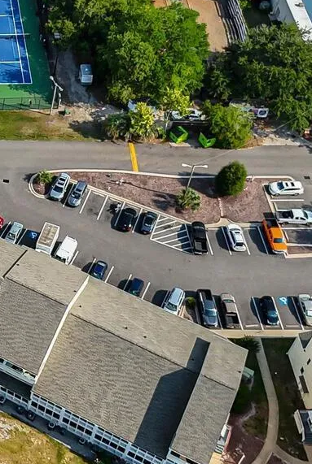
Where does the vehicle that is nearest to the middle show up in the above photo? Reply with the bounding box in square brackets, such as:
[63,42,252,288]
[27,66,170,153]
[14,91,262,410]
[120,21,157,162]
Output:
[139,211,157,235]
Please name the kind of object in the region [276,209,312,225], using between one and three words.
vehicle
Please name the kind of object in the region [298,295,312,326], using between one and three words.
car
